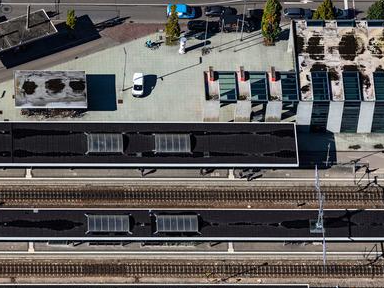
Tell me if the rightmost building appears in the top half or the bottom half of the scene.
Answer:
top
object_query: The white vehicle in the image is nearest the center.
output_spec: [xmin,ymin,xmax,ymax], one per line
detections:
[132,72,145,97]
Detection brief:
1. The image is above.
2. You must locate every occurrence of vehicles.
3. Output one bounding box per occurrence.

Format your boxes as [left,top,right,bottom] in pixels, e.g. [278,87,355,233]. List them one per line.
[168,4,195,19]
[187,20,216,34]
[132,72,145,97]
[203,6,231,18]
[246,7,268,20]
[285,7,313,20]
[221,15,254,34]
